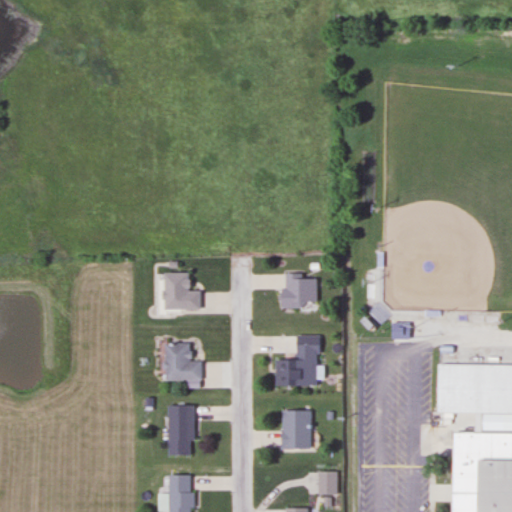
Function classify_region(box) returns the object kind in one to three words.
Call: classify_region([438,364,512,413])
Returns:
building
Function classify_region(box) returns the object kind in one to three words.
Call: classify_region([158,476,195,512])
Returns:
house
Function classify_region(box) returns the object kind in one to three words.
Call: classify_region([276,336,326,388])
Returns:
house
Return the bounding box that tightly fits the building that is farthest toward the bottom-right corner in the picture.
[452,433,512,512]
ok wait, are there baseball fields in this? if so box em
[384,84,512,310]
